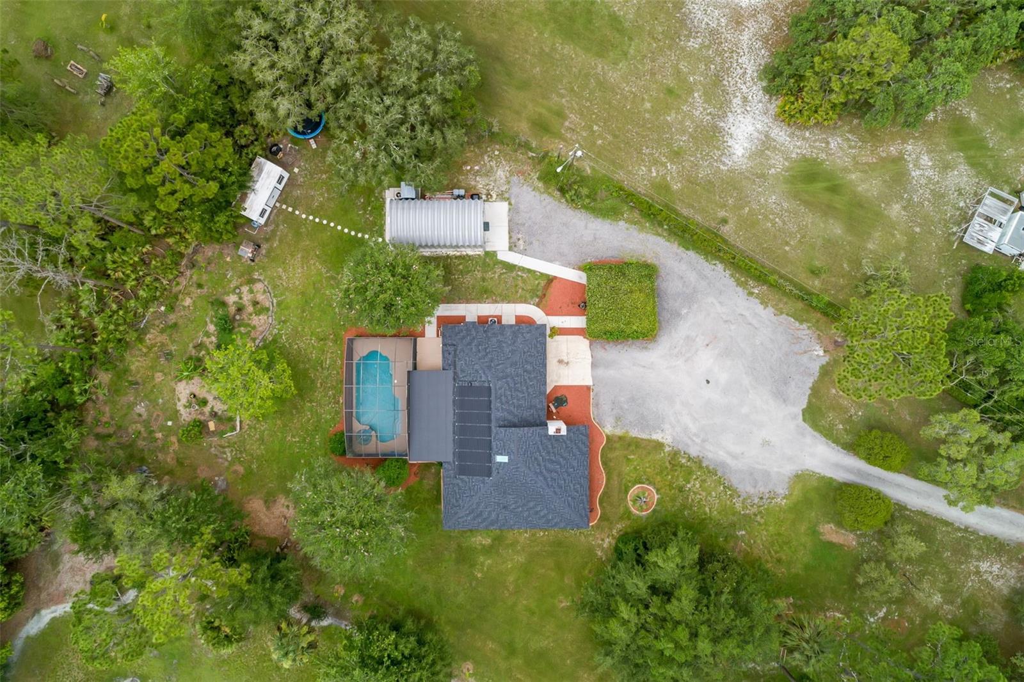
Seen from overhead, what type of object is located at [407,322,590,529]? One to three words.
house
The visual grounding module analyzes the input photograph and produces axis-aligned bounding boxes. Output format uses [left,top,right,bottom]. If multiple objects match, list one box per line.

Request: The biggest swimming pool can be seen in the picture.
[354,350,402,444]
